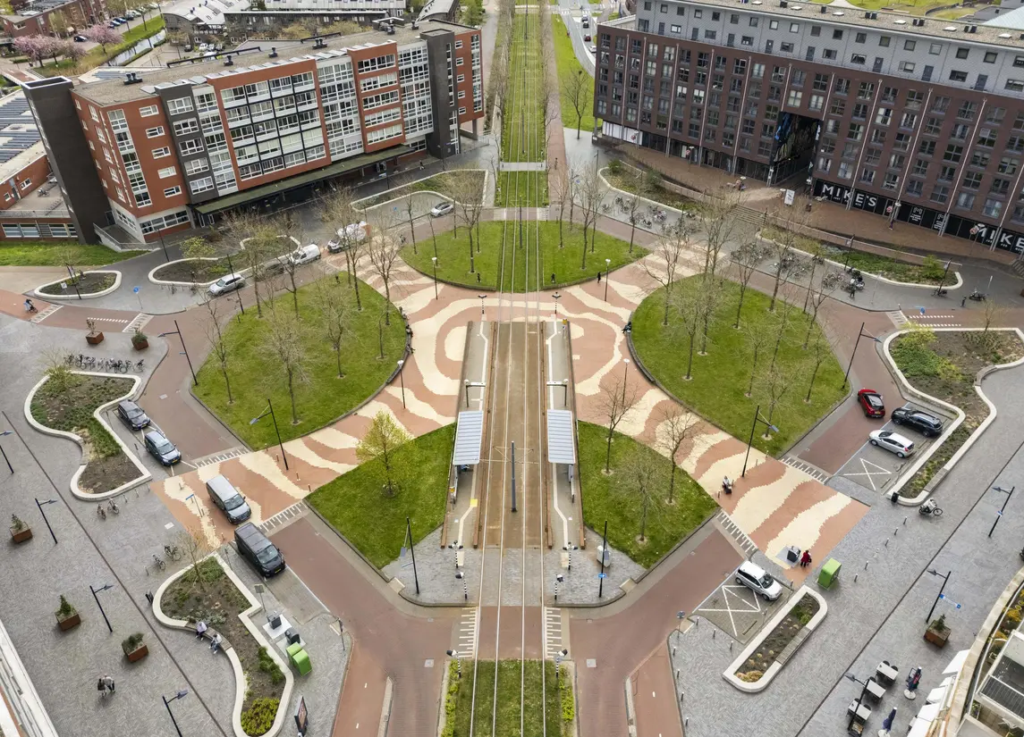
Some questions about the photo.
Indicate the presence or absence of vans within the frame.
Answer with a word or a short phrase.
Yes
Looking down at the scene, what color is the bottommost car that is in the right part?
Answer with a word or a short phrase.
white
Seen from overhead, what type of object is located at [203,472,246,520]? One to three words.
van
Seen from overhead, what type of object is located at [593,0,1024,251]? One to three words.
building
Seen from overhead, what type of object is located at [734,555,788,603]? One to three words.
car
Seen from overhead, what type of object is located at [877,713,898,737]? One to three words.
umbrella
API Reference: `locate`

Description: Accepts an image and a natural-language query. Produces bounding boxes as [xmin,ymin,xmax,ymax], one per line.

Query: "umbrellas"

[906,671,927,703]
[877,713,898,737]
